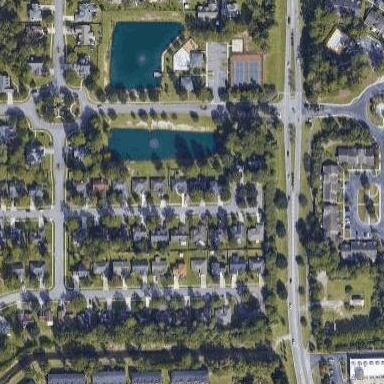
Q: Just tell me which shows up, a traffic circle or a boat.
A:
traffic circle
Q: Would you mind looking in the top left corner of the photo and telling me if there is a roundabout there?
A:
Yes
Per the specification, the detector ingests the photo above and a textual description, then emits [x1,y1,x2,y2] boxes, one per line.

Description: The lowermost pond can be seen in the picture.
[107,128,217,162]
